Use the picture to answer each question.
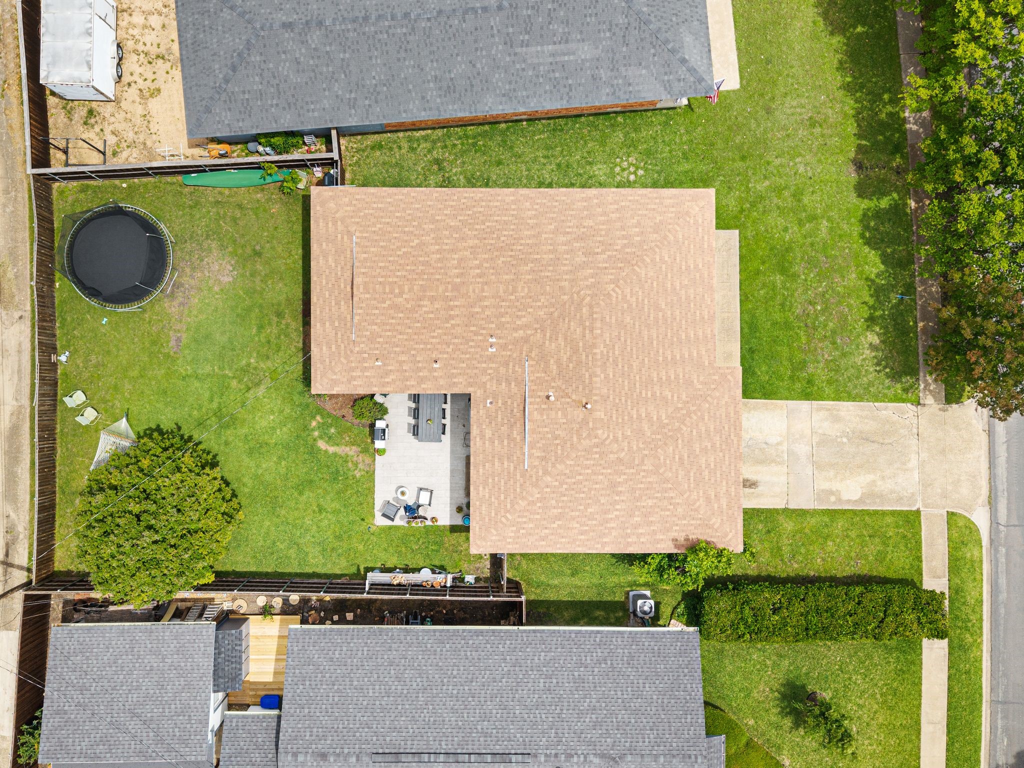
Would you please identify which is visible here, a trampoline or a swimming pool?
trampoline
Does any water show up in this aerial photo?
No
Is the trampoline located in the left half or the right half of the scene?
left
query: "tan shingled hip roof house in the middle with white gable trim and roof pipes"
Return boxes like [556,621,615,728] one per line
[311,187,742,553]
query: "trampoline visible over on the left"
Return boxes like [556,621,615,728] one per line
[49,199,179,312]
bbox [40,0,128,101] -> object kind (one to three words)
trailer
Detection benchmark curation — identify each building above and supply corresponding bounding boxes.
[176,0,714,143]
[311,187,742,553]
[278,623,728,768]
[36,621,229,768]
